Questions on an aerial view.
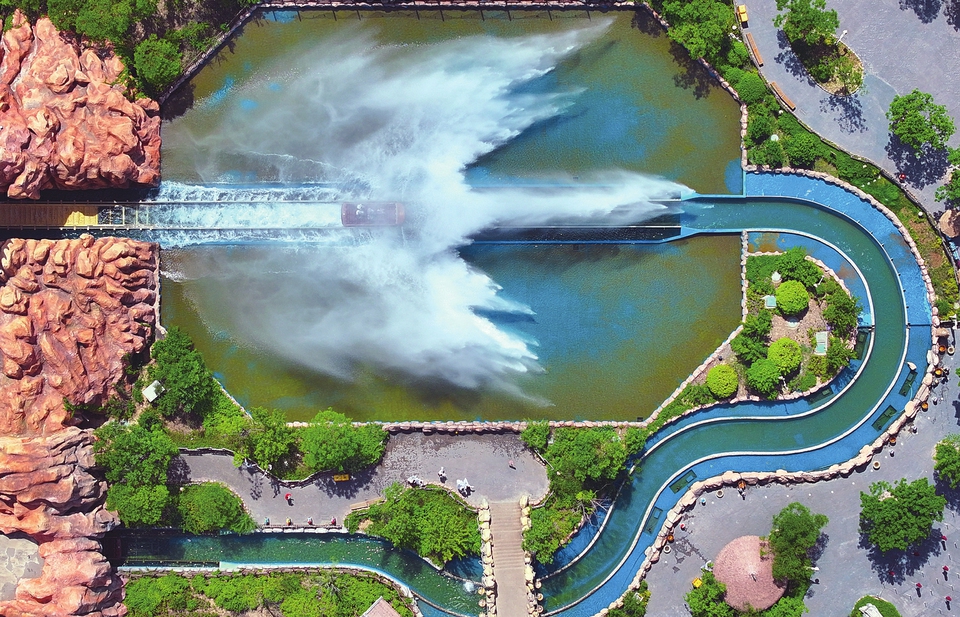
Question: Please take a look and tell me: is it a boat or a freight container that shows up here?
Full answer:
There is a boat in the scene.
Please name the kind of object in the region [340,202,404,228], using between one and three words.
boat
